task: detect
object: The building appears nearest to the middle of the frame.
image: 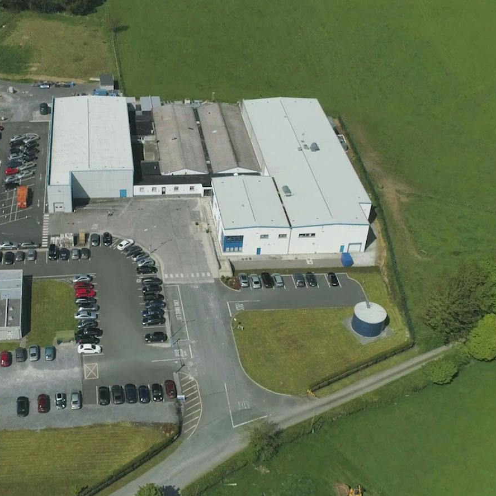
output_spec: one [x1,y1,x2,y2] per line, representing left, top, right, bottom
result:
[211,175,289,255]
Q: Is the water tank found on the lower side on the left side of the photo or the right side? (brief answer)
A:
right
